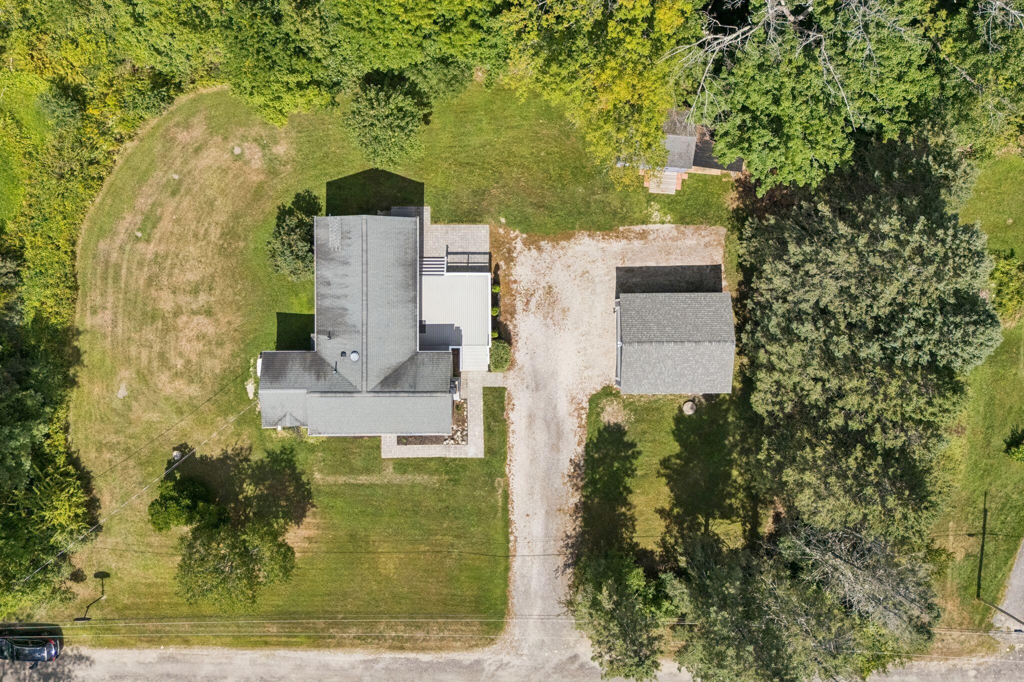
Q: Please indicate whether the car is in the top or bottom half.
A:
bottom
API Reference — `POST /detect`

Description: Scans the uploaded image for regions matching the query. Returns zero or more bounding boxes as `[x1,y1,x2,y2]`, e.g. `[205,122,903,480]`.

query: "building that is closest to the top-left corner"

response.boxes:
[257,214,460,437]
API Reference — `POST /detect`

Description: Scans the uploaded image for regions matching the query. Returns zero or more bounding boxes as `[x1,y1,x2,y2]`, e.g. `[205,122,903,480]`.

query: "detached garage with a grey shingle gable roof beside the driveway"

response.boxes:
[615,293,736,394]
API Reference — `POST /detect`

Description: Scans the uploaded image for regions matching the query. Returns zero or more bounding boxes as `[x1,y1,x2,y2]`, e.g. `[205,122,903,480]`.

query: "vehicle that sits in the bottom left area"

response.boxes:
[0,631,58,666]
